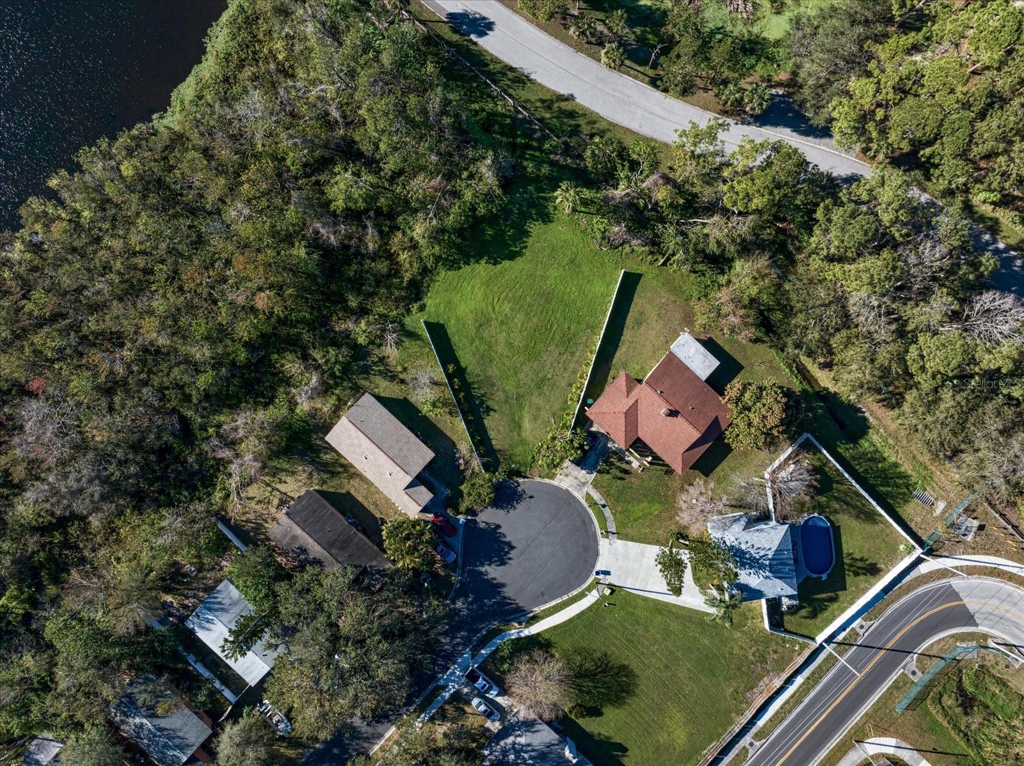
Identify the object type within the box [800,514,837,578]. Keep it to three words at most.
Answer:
swimming pool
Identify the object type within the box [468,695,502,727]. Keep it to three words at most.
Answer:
car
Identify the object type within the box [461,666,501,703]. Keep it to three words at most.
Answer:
truck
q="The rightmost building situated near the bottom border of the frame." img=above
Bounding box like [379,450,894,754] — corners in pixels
[485,701,595,766]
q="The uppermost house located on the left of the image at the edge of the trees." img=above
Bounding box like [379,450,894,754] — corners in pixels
[325,393,436,517]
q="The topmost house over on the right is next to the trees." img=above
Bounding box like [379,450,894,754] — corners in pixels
[586,332,735,476]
